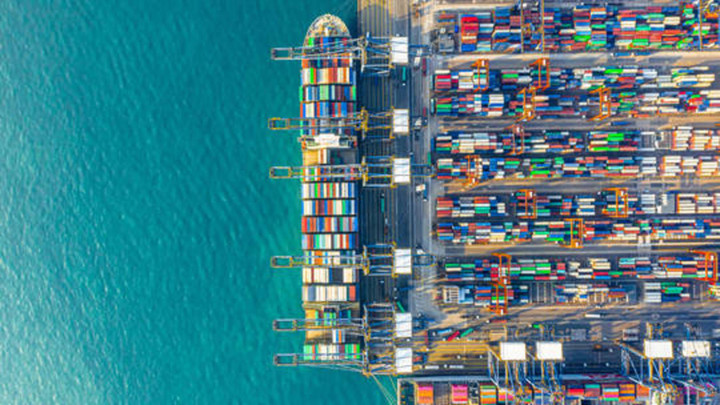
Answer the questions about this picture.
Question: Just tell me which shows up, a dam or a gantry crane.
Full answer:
The one in the frame is a gantry crane.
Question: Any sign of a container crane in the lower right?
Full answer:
Yes, a container crane shows up in the lower right.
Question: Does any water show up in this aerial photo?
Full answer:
Yes, there's water in this view.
